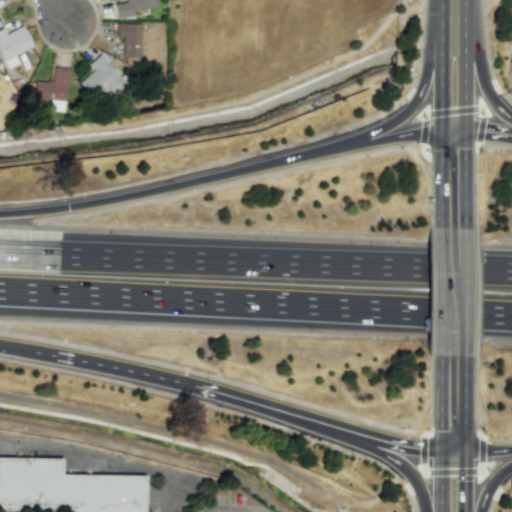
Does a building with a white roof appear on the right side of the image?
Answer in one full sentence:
No, on the right side of the image there is no building with a white roof.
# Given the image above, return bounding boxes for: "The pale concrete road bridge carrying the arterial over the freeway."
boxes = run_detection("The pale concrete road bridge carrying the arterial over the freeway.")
[430,226,482,358]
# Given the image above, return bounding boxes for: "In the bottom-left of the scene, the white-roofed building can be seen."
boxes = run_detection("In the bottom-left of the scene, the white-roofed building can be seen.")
[0,458,148,512]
